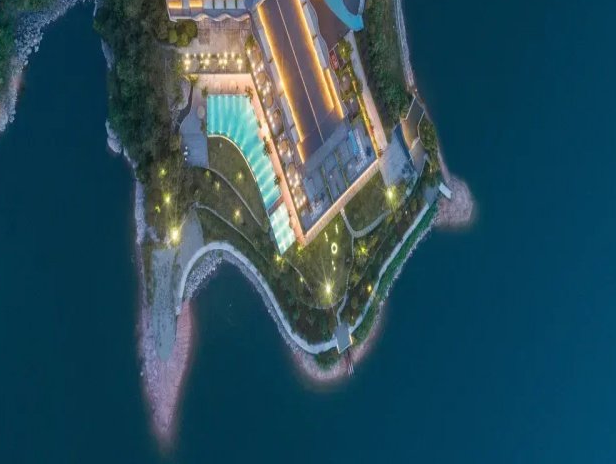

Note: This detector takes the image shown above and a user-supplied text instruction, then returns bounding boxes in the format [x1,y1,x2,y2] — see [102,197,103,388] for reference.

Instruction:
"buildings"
[336,323,352,353]
[167,0,380,237]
